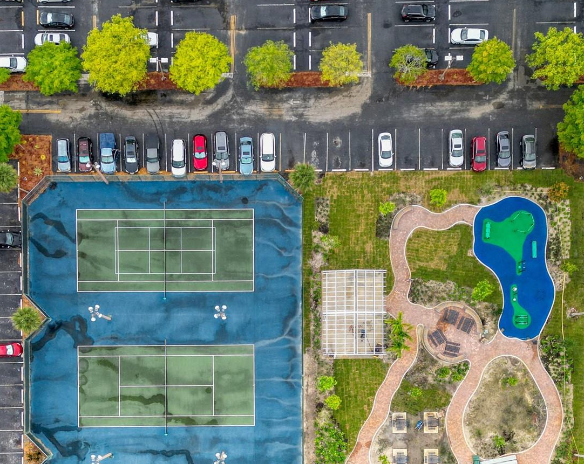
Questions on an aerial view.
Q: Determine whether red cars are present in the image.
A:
Yes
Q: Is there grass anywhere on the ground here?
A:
Yes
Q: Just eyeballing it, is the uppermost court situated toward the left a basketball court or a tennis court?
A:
tennis court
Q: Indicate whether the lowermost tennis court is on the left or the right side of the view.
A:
left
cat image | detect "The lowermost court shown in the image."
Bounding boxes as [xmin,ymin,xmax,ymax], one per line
[78,339,255,436]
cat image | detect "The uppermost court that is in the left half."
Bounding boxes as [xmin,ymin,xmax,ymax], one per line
[77,196,255,301]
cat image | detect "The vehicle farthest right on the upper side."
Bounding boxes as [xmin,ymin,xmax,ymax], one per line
[519,134,538,170]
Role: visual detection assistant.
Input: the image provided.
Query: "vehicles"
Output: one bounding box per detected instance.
[260,133,276,173]
[495,132,513,168]
[39,11,76,30]
[99,132,121,174]
[0,231,22,248]
[135,28,164,49]
[77,136,94,173]
[171,139,187,177]
[239,136,255,175]
[214,132,230,169]
[55,137,72,174]
[192,134,208,170]
[448,129,465,167]
[0,55,27,73]
[310,4,348,23]
[403,49,438,68]
[470,136,488,173]
[400,3,436,23]
[378,132,394,168]
[519,134,538,170]
[35,29,70,47]
[0,342,24,358]
[144,133,161,174]
[123,136,139,174]
[450,27,489,45]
